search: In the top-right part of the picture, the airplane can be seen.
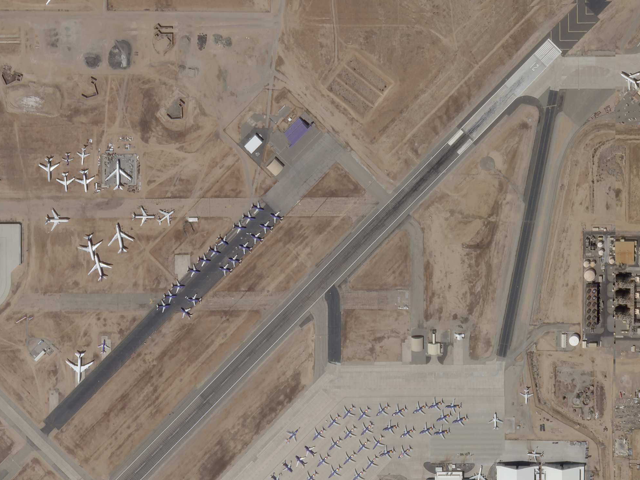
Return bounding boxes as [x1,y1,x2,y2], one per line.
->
[621,71,640,89]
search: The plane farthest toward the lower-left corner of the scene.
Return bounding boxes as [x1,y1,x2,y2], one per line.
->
[66,352,95,383]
